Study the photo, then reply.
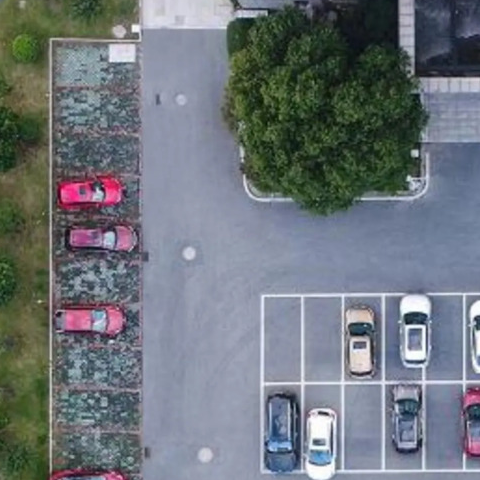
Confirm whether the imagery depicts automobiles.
Yes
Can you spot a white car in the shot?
Yes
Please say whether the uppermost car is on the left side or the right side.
left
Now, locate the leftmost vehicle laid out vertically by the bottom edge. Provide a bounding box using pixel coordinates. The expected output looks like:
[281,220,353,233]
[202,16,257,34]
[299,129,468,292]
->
[263,392,301,472]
